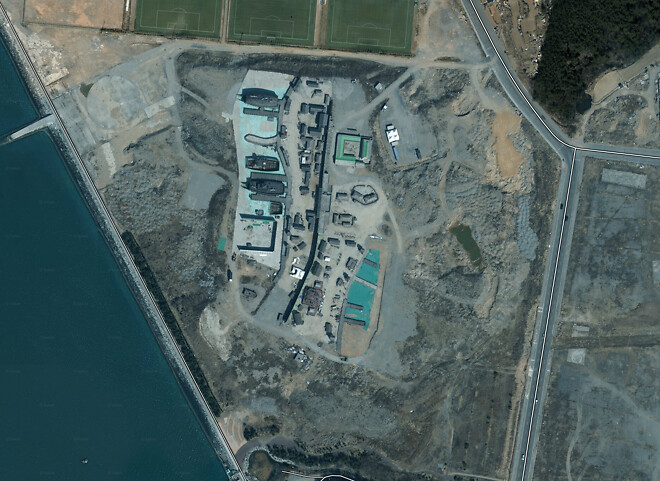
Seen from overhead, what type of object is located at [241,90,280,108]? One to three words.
ship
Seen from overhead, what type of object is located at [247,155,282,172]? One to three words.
ship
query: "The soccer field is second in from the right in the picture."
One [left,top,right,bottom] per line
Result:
[228,0,316,46]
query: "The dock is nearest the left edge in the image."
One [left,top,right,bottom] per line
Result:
[0,115,53,146]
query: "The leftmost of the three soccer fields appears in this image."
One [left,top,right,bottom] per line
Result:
[134,0,222,39]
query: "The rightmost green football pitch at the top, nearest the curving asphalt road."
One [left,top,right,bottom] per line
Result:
[325,0,414,54]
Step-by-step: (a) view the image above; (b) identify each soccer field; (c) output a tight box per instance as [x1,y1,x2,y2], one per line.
[325,0,414,54]
[228,0,316,46]
[134,0,222,39]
